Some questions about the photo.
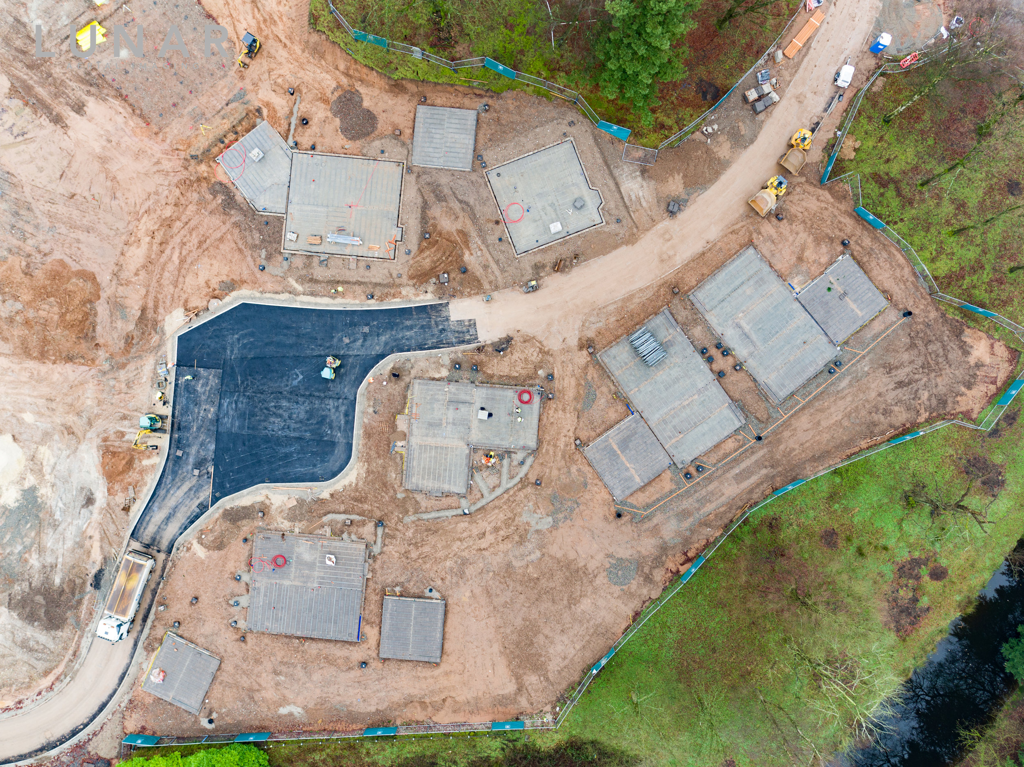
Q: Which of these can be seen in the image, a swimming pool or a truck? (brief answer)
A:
truck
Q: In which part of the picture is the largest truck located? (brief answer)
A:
bottom left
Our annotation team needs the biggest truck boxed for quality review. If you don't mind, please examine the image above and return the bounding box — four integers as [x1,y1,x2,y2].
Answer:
[94,545,158,644]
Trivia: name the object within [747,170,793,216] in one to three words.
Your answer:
truck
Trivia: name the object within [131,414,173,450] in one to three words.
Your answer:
work vehicle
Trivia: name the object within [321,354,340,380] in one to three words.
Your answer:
work vehicle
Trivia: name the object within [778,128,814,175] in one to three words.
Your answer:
truck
